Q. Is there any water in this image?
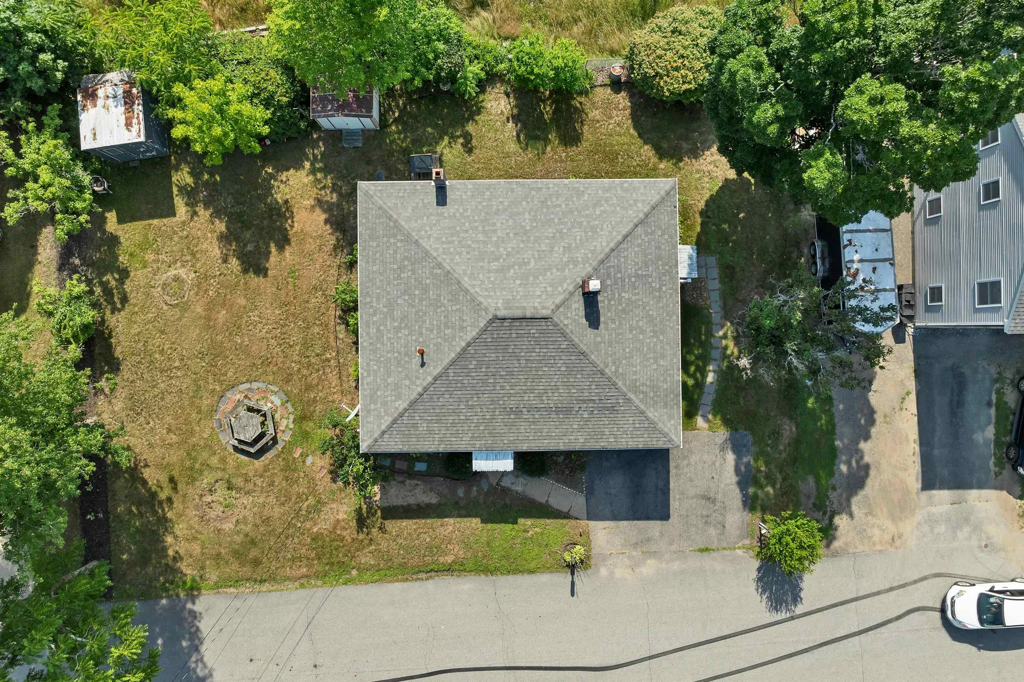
No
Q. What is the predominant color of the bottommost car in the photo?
white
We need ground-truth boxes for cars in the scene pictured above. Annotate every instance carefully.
[943,576,1024,637]
[1003,371,1024,476]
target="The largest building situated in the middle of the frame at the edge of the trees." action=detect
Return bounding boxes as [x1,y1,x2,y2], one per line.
[357,160,699,472]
